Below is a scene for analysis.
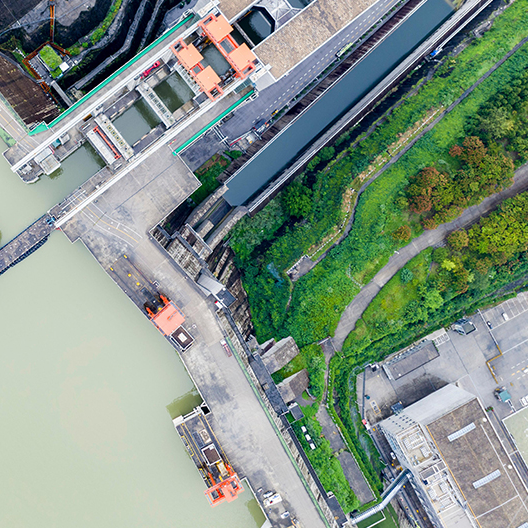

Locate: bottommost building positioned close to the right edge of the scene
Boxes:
[378,385,528,528]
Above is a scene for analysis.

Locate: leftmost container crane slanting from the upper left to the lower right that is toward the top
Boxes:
[165,37,223,105]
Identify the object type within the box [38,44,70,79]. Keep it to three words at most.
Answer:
house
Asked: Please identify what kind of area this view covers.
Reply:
port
